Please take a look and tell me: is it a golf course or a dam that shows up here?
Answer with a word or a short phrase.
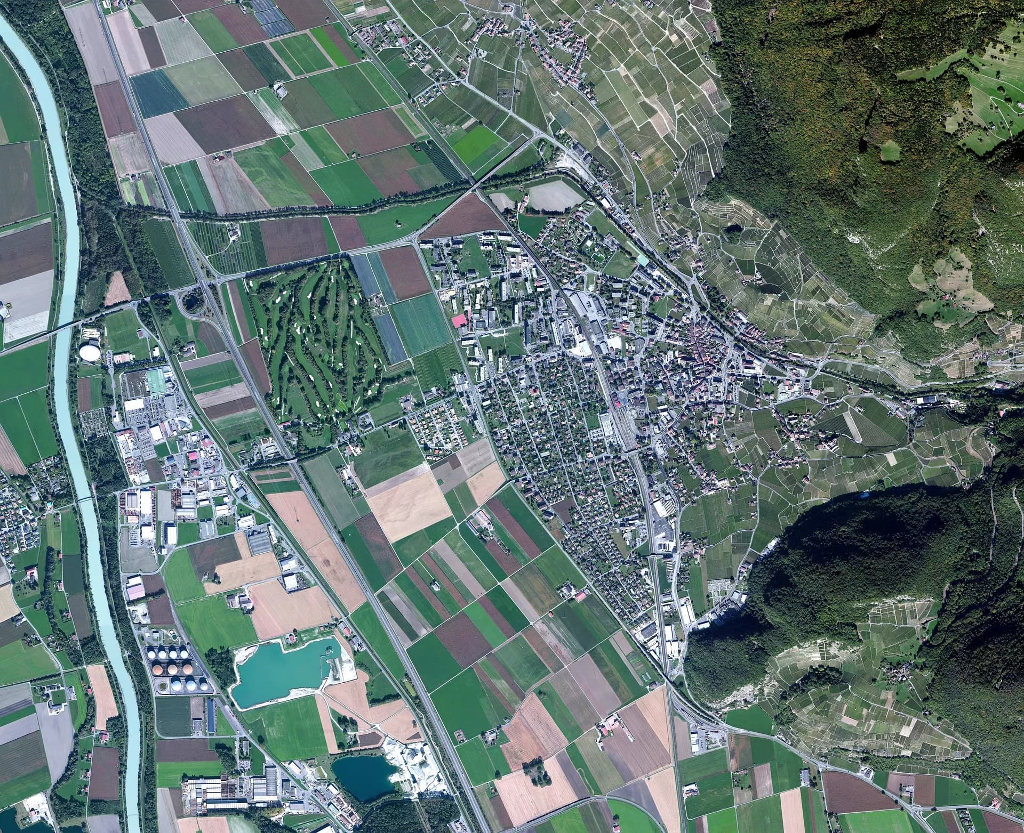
golf course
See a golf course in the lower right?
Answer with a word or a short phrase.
No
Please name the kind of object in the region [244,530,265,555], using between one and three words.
building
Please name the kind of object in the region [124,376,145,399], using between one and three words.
building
